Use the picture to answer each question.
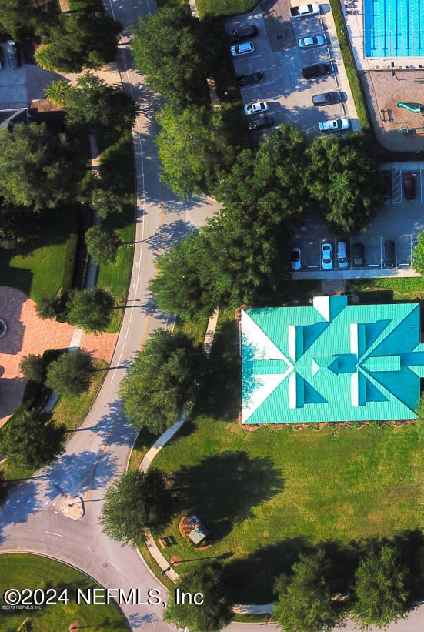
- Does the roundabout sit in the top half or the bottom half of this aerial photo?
bottom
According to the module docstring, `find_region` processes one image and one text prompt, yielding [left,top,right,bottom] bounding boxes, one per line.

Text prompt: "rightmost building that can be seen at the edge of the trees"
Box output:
[240,293,424,425]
